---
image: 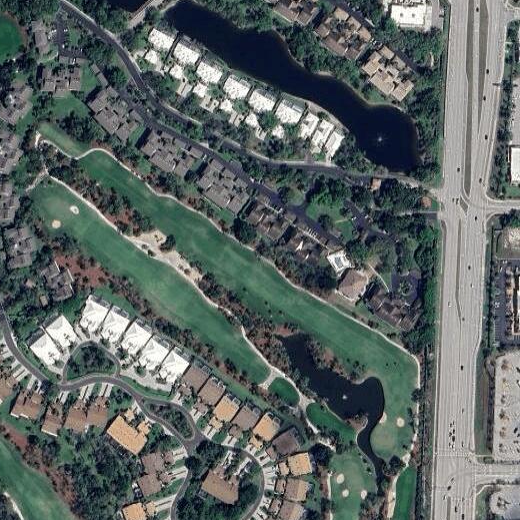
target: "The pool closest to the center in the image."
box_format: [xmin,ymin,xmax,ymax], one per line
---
[327,250,353,277]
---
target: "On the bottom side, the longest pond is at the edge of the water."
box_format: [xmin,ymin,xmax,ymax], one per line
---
[278,333,385,495]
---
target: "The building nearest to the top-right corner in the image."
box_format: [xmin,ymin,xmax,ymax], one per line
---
[391,5,431,28]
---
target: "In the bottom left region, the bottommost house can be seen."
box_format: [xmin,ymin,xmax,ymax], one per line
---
[120,502,157,520]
